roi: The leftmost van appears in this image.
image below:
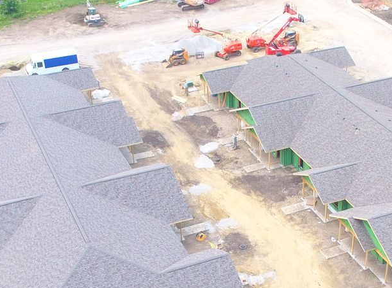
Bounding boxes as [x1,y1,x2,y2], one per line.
[24,47,77,75]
